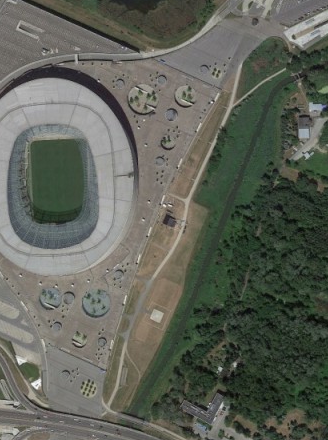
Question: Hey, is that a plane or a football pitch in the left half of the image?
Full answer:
What appears in the left half of the image is a football pitch.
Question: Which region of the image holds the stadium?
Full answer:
The stadium sits in the left section of the image.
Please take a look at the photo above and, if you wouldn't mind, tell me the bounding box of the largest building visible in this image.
[180,392,224,425]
